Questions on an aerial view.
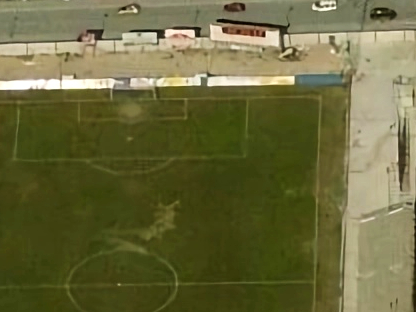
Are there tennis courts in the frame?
No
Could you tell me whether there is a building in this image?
No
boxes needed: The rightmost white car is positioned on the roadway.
[311,0,337,12]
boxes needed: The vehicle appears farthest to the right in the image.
[370,7,396,19]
